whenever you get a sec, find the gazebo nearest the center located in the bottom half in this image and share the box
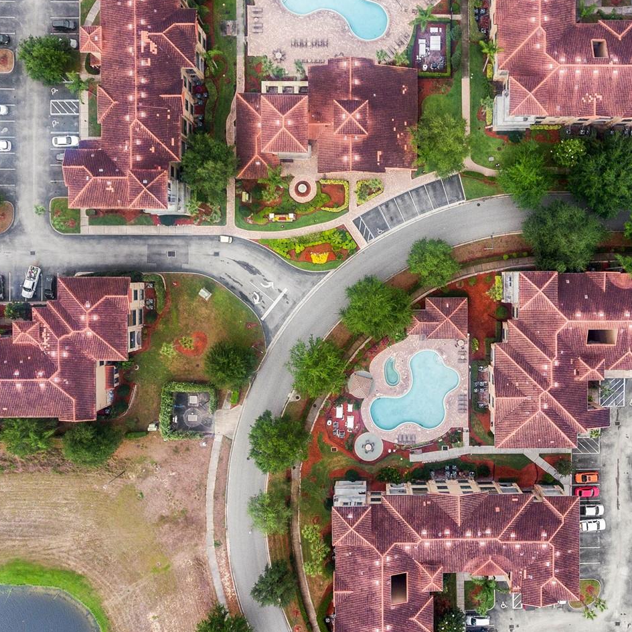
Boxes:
[347,370,374,397]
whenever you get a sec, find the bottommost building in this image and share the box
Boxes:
[332,476,580,632]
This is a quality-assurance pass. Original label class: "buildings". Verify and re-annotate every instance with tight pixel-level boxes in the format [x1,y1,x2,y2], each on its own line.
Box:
[235,52,417,179]
[60,0,207,215]
[332,476,580,632]
[0,275,150,423]
[407,297,468,339]
[492,0,632,130]
[491,271,632,448]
